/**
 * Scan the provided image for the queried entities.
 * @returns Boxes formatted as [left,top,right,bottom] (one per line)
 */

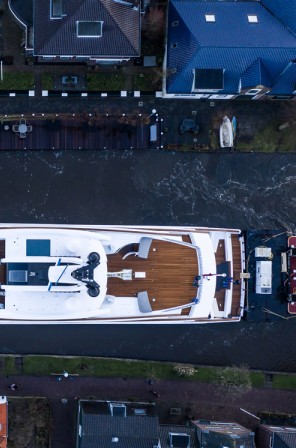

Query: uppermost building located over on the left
[8,0,141,60]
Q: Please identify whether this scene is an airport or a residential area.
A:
residential area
